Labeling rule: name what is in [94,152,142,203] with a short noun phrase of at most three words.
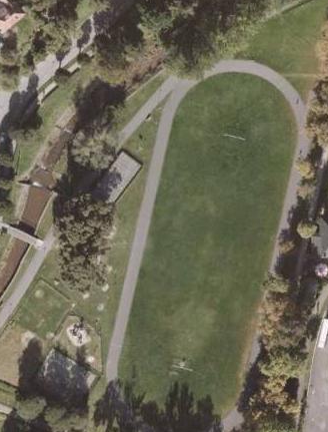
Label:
shed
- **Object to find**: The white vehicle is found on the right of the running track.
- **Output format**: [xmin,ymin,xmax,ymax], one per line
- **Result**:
[315,319,328,348]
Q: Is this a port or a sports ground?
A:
sports ground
